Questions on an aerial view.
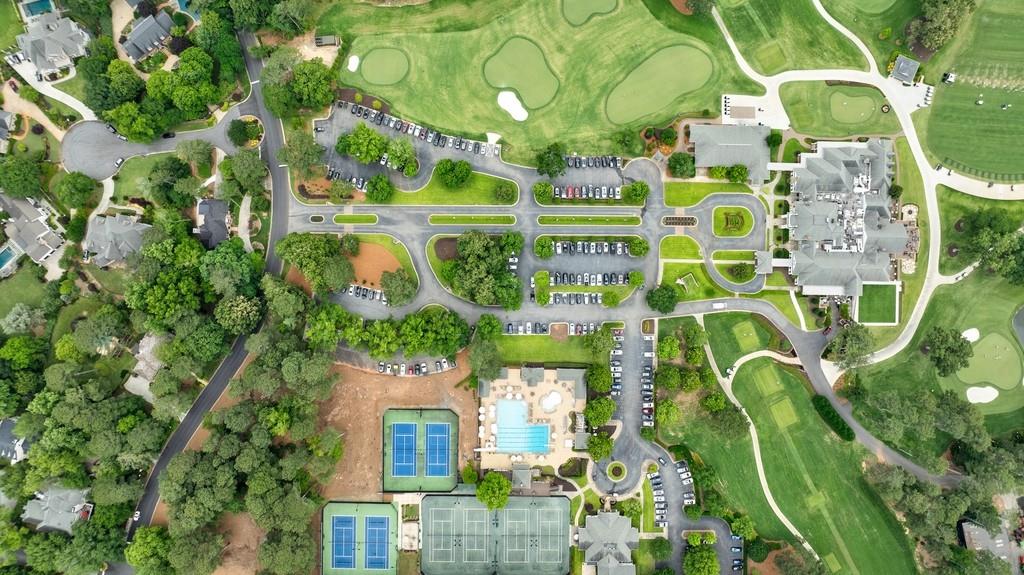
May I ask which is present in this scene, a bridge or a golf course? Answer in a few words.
golf course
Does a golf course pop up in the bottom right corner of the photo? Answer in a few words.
Yes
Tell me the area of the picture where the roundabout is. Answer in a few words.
bottom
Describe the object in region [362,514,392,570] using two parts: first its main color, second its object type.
blue tennis court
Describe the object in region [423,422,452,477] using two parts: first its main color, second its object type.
blue tennis court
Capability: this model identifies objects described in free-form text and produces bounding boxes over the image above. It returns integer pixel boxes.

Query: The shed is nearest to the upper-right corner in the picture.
[887,55,919,85]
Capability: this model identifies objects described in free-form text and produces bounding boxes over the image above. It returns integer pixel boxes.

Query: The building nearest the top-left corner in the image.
[23,11,87,76]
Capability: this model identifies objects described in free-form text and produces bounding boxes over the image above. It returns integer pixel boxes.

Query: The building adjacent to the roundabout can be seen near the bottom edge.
[578,509,638,575]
